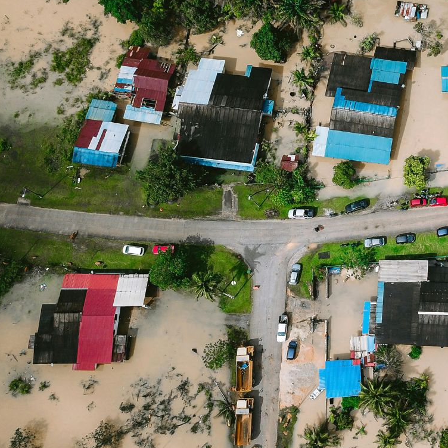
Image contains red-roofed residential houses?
Yes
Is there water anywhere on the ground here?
Yes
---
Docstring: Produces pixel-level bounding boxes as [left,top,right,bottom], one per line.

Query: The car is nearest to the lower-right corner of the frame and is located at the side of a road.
[285,339,298,361]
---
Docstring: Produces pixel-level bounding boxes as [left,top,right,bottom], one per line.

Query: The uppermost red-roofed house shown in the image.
[114,47,179,127]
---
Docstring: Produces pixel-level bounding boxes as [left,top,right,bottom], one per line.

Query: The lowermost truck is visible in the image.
[231,398,254,448]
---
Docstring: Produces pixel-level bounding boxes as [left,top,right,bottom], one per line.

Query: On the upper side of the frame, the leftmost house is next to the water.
[73,99,133,168]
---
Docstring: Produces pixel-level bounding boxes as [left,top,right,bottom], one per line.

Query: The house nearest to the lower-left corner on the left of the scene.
[28,269,153,370]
